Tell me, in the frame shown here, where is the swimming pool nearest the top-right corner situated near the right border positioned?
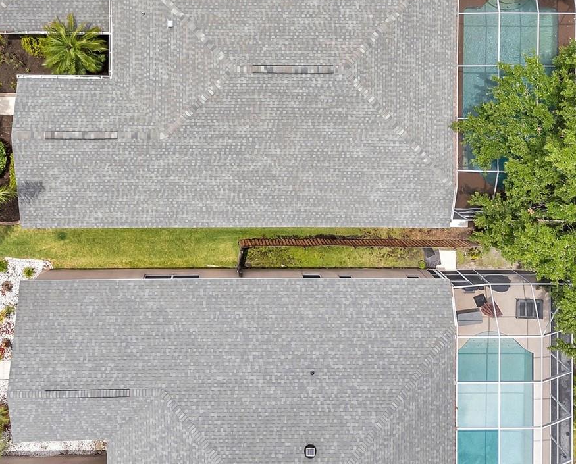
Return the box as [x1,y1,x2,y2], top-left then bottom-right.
[465,0,559,198]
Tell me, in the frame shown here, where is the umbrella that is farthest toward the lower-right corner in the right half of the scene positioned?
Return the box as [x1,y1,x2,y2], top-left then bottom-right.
[480,301,515,329]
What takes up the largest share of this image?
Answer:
buildings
